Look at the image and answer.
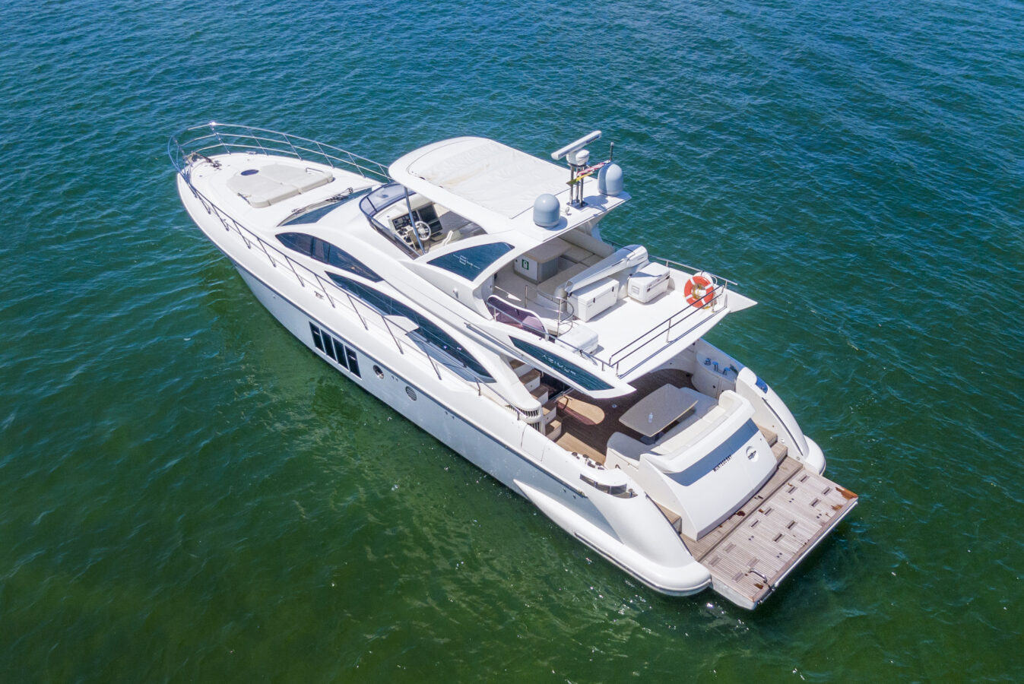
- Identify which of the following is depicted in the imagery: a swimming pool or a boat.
boat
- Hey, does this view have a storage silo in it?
No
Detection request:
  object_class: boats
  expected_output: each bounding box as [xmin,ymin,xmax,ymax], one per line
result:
[172,123,859,608]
